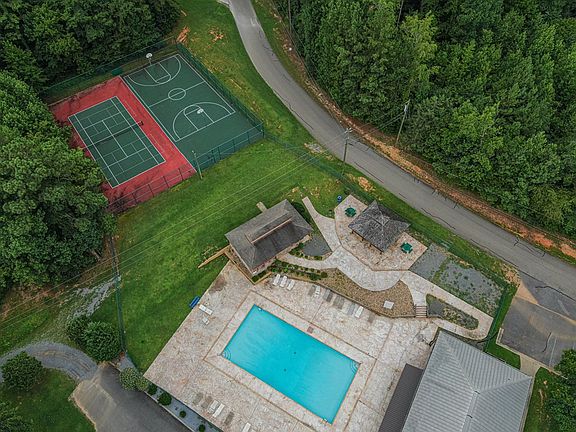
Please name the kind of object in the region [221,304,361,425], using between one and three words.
swimming pool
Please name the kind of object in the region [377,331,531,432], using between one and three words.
building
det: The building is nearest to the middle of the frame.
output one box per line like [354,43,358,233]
[224,199,314,275]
